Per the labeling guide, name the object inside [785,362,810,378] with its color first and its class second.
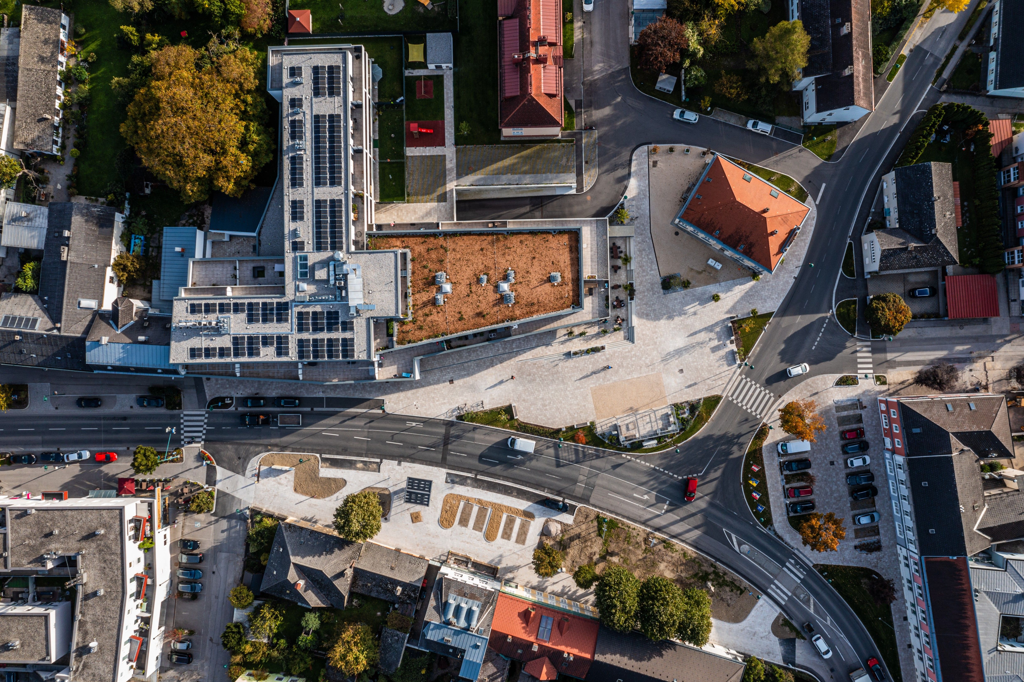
white car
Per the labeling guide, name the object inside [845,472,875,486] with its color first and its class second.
black car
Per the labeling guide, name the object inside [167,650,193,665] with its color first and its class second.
black car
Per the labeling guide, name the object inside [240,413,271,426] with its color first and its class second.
black vehicle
